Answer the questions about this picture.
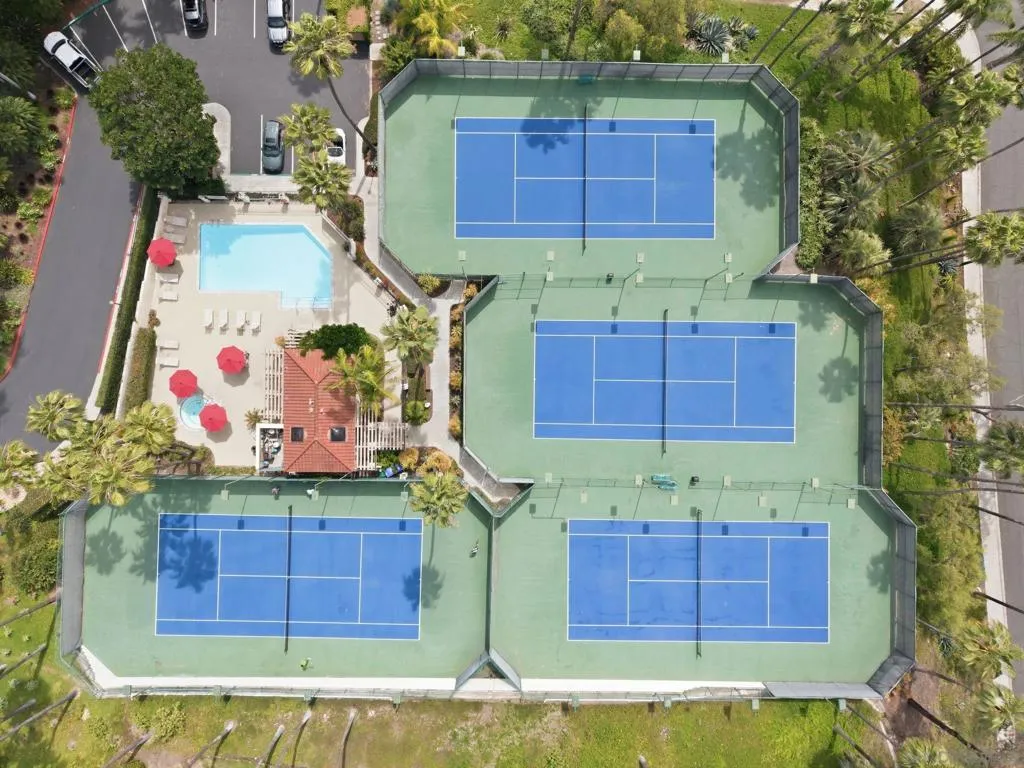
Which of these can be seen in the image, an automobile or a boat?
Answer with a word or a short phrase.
automobile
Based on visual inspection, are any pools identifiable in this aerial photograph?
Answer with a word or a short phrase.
Yes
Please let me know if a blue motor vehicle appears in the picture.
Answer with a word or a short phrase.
No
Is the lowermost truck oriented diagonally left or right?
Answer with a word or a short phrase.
left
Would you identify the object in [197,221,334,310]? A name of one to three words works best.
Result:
swimming pool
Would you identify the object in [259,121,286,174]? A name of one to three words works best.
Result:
car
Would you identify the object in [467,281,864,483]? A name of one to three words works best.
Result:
tennis court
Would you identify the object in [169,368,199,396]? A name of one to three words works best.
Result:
umbrella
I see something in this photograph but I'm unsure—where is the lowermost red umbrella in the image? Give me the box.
[199,403,228,432]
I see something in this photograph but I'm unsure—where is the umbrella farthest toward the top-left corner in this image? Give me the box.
[148,238,179,267]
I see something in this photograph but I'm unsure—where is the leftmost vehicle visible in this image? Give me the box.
[46,35,99,93]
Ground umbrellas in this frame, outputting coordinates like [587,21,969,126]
[199,403,228,432]
[217,345,246,374]
[148,238,179,267]
[169,368,199,396]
